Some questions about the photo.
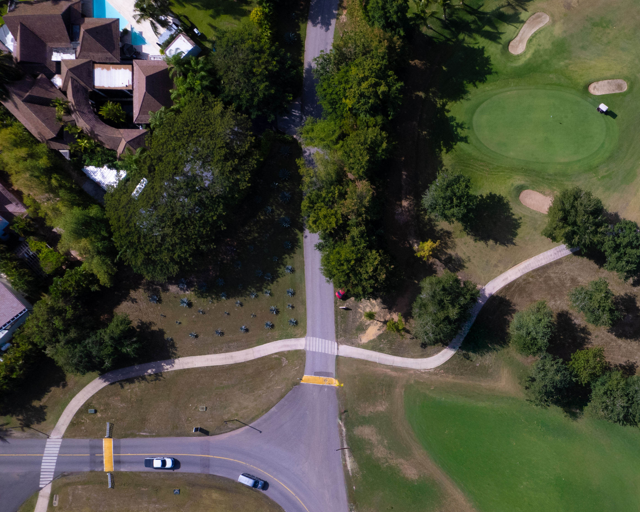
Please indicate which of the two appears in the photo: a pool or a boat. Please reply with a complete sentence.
It is a pool that can be seen here.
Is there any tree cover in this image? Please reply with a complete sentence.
Yes, some tree cover is visible.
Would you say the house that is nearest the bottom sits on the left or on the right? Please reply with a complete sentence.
The house that is nearest the bottom appears in the left half of the scene.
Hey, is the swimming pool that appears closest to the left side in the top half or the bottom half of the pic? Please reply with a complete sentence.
The top half of the photo is where the swimming pool that appears closest to the left side is.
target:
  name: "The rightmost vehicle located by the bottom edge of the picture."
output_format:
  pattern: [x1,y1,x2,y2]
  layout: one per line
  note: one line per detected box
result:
[236,472,267,491]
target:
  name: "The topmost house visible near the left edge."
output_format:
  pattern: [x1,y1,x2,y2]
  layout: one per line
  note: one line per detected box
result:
[0,0,188,154]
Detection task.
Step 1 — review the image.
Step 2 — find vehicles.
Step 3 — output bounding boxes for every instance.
[236,472,267,491]
[144,457,176,470]
[596,104,609,117]
[334,285,351,301]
